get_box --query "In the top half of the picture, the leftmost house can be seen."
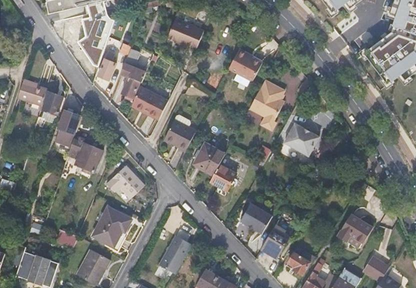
[18,79,48,116]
